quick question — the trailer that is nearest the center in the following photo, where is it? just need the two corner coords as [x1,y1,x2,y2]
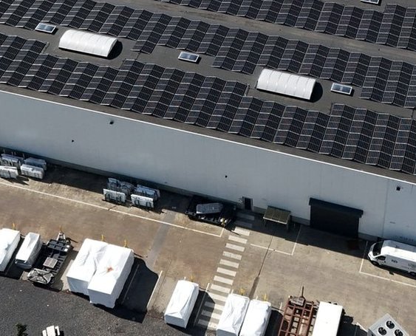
[184,206,244,234]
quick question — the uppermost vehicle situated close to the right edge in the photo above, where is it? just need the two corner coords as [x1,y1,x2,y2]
[369,239,416,272]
